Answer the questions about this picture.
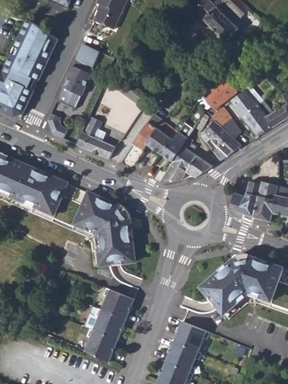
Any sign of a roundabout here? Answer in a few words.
Yes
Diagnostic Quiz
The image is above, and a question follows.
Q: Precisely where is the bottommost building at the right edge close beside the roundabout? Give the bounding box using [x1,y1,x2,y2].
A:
[198,255,286,325]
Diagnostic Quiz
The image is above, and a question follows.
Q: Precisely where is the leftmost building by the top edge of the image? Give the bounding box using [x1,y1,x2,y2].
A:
[0,18,58,117]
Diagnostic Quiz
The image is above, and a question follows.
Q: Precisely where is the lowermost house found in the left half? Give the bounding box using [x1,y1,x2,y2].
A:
[83,290,134,362]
